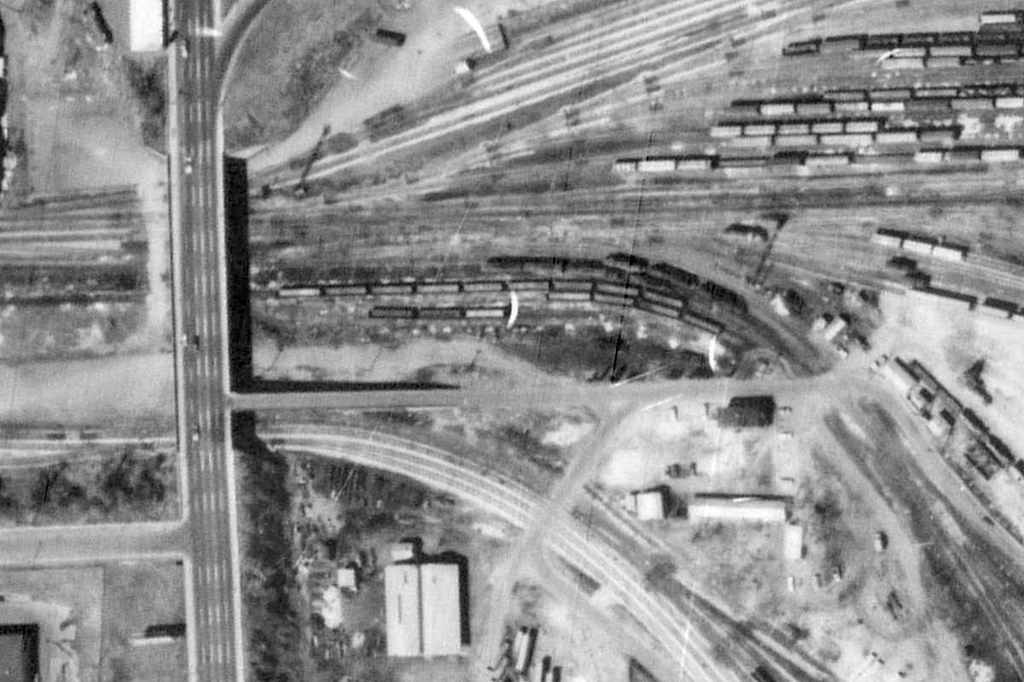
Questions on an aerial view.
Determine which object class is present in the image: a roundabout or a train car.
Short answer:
train car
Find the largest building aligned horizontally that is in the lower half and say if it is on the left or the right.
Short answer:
right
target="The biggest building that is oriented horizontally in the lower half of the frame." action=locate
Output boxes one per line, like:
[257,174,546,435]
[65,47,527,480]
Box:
[687,500,786,522]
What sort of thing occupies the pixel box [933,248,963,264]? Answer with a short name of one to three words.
rail car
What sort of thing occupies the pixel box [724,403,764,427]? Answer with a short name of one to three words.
building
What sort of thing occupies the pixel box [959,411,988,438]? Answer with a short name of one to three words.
rail car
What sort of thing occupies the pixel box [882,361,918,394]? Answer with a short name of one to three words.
shed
